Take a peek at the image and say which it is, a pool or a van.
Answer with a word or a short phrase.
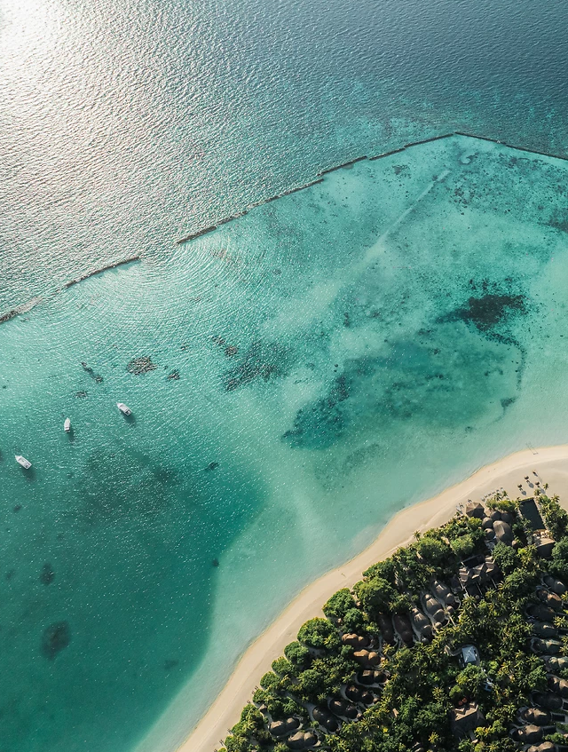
pool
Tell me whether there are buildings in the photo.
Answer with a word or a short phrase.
Yes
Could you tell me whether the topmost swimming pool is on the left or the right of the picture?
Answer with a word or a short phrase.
right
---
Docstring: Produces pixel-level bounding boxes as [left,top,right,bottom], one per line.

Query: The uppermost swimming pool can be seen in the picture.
[518,496,547,534]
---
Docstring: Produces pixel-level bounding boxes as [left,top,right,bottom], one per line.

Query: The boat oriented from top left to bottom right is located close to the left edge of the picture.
[15,456,32,471]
